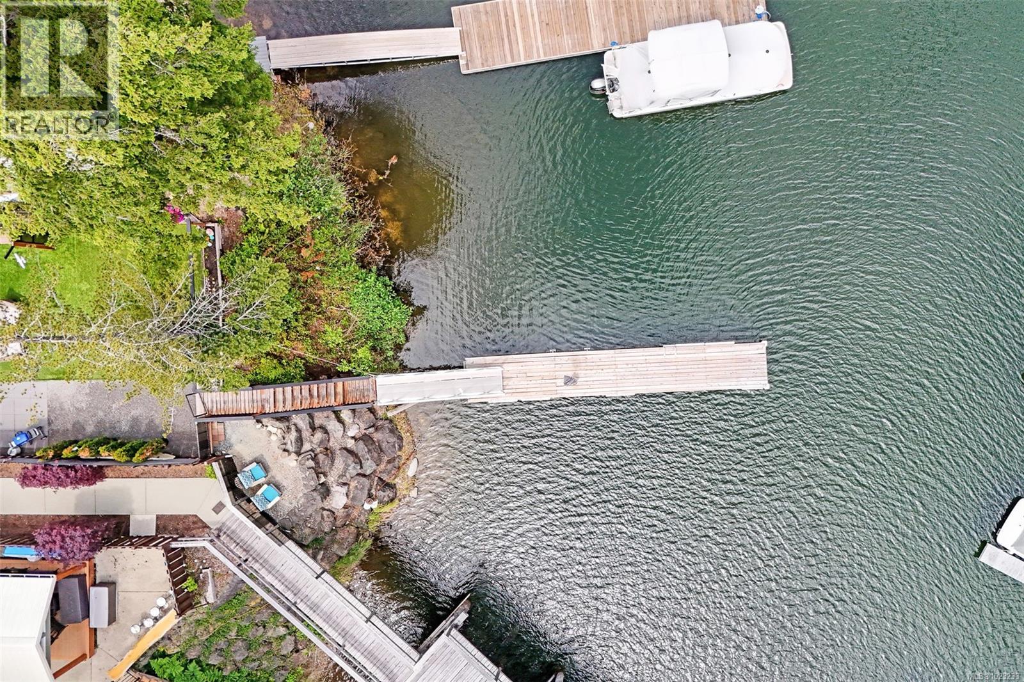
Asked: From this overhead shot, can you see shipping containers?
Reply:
No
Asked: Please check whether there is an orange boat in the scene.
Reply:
No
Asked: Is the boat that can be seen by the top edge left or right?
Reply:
right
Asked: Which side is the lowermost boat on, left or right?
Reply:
right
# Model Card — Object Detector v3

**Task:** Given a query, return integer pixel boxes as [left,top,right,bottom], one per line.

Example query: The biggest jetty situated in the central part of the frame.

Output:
[465,341,771,403]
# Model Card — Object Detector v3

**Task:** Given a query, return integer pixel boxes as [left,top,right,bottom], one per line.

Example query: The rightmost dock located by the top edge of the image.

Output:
[451,0,771,77]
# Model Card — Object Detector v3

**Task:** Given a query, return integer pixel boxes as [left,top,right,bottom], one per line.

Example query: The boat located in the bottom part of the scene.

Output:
[986,499,1024,563]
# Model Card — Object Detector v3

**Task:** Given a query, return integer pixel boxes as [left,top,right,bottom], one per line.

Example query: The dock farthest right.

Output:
[973,541,1024,584]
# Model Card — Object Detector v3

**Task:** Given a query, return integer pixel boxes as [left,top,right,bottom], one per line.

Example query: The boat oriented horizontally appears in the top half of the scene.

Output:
[587,25,791,120]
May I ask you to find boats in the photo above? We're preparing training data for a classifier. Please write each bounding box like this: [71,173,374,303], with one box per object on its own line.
[986,499,1024,563]
[587,25,791,120]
